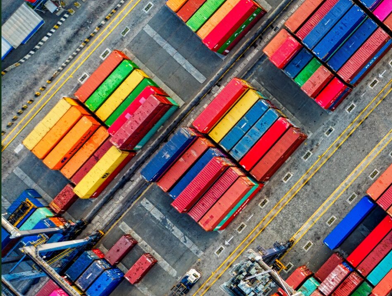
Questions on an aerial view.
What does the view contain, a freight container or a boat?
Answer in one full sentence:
Of the two, only a freight container appears.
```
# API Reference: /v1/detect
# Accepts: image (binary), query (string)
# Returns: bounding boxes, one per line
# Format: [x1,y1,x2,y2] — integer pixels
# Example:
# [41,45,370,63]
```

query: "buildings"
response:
[0,2,50,49]
[44,0,66,16]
